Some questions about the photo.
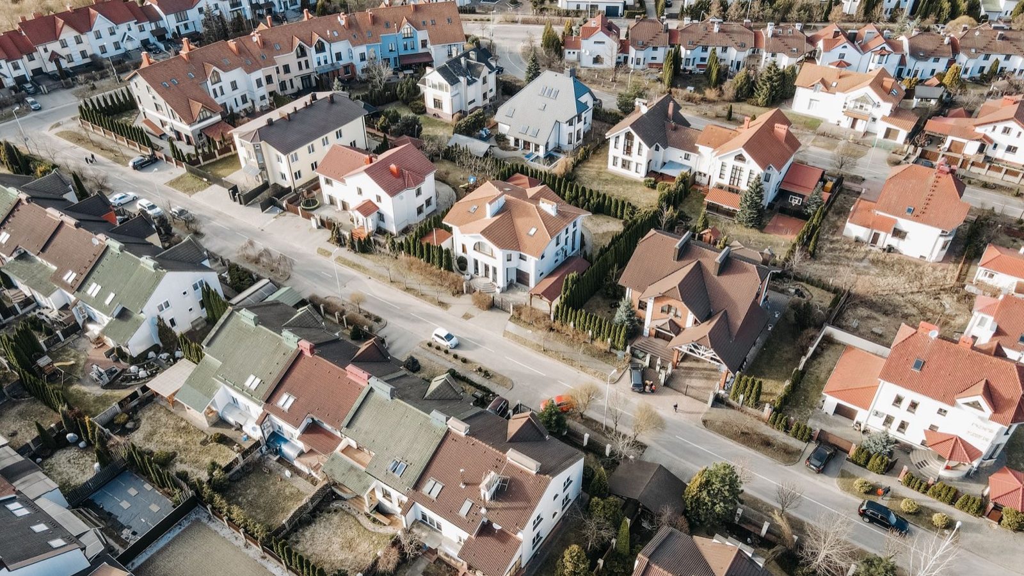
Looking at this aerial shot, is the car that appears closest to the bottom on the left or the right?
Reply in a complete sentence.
The car that appears closest to the bottom sits on the right side.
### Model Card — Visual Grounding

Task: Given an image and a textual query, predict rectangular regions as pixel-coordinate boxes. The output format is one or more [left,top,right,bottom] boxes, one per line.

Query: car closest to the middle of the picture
[429,328,459,351]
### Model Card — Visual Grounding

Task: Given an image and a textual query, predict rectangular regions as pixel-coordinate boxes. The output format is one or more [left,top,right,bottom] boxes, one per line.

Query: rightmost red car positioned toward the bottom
[540,395,576,415]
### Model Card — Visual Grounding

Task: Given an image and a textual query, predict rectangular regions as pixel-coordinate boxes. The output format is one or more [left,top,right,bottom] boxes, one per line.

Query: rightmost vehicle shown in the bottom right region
[855,501,911,540]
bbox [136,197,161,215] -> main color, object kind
white car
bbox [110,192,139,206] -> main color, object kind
white car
